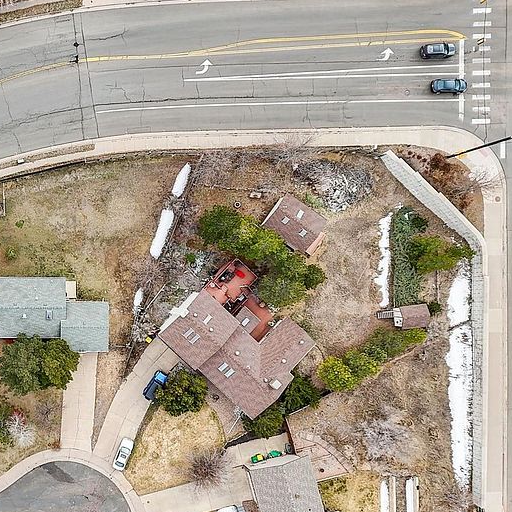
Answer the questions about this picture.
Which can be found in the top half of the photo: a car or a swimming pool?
car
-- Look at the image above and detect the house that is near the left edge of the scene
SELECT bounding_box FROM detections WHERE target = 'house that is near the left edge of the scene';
[0,277,111,354]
